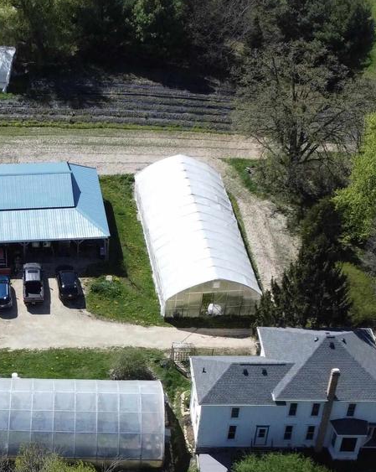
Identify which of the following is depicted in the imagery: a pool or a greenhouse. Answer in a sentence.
Of the two, only a greenhouse appears.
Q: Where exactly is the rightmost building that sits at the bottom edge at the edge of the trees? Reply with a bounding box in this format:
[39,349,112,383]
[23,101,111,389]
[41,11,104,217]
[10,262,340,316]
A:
[190,328,376,465]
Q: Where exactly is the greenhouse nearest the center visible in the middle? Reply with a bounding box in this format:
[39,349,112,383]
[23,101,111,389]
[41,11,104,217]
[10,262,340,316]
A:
[135,158,263,318]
